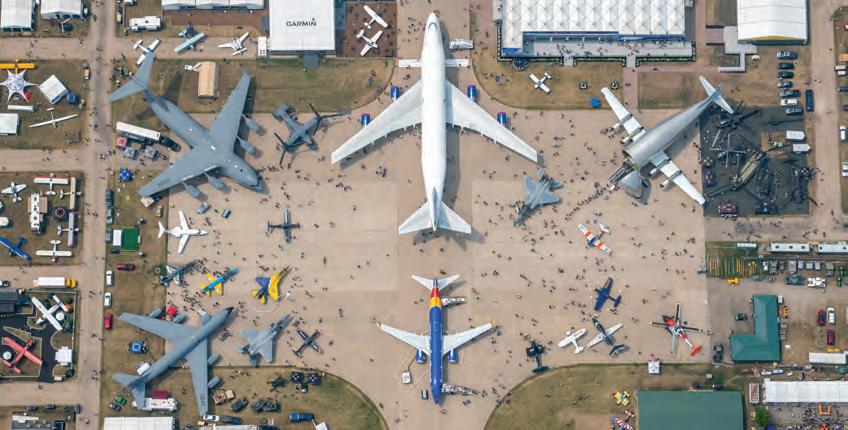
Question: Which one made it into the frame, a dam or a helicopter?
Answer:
helicopter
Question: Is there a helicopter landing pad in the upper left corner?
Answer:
No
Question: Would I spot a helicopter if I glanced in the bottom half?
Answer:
Yes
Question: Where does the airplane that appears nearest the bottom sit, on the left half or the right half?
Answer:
right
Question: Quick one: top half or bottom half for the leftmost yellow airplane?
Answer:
top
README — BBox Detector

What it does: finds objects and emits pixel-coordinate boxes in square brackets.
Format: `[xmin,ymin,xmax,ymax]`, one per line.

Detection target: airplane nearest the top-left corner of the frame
[0,58,34,80]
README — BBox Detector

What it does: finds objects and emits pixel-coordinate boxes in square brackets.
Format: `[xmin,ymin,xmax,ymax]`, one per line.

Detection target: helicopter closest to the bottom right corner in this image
[650,302,702,355]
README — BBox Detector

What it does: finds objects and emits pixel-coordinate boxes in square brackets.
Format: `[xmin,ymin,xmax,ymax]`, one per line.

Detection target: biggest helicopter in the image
[709,130,785,201]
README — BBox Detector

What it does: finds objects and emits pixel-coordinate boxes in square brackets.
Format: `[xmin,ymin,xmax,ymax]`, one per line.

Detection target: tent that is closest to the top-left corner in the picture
[1,0,36,31]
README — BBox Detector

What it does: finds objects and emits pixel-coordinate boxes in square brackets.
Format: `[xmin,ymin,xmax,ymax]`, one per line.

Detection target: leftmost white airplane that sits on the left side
[0,181,26,202]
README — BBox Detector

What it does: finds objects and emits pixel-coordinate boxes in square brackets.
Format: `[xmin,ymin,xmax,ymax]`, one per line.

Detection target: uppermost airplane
[363,4,389,30]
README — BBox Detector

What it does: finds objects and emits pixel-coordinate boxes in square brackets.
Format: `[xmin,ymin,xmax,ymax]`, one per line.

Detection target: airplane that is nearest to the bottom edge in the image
[610,409,634,430]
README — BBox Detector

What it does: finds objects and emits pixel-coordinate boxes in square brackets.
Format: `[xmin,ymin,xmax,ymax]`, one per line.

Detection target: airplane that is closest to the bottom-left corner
[2,336,43,375]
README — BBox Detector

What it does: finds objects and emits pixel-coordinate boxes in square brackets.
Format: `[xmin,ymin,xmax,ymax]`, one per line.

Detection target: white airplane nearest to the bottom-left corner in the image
[32,296,67,332]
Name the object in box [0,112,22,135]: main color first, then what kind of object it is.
white tent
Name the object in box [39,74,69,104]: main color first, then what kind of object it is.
white tent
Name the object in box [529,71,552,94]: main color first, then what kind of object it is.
white airplane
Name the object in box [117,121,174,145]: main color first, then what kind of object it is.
white truck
